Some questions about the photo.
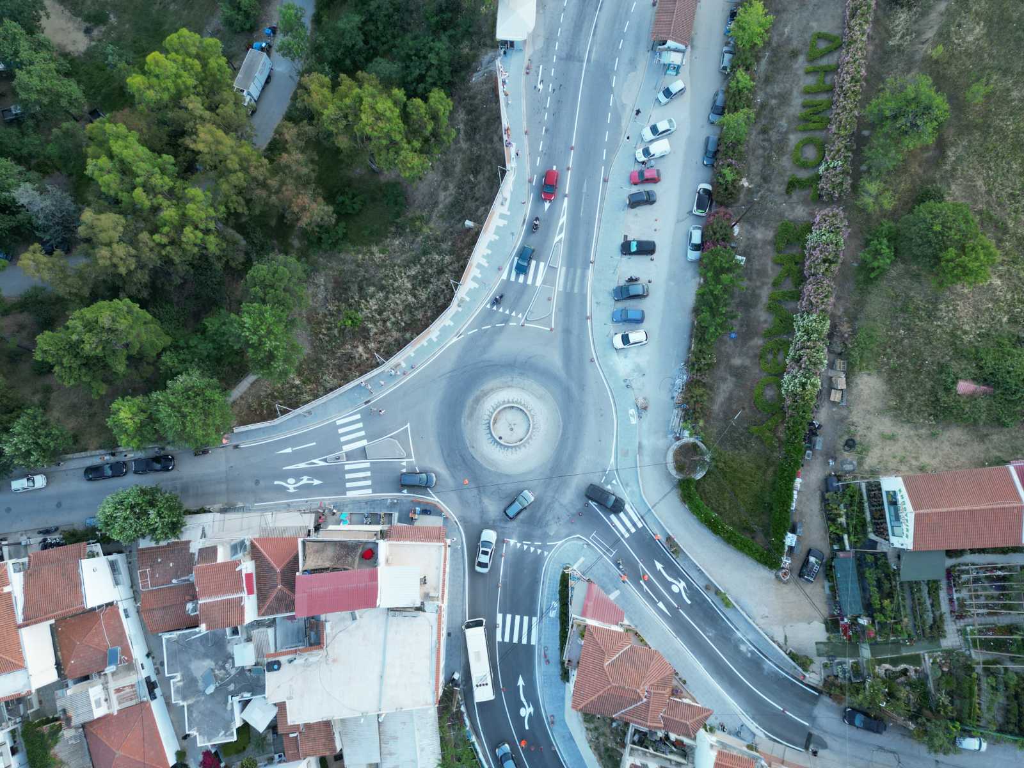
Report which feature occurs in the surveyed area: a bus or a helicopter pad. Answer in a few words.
bus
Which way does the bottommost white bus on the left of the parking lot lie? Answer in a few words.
from top to bottom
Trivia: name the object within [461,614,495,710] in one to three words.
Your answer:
bus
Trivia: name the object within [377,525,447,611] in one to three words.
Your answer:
building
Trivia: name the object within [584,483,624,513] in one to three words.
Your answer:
car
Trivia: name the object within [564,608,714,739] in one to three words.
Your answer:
house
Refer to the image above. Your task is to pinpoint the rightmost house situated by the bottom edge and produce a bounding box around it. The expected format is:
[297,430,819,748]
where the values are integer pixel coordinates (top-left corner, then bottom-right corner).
[688,727,769,768]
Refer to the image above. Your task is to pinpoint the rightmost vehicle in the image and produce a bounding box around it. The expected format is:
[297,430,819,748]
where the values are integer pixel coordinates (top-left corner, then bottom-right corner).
[952,734,986,755]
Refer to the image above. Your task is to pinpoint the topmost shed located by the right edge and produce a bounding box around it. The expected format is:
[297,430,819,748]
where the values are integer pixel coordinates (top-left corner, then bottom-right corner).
[949,380,993,394]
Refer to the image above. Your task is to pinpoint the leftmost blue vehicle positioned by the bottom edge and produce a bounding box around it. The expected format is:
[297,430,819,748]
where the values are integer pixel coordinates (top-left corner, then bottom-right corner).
[496,738,518,768]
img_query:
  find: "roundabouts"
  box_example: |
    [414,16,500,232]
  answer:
[439,354,584,498]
